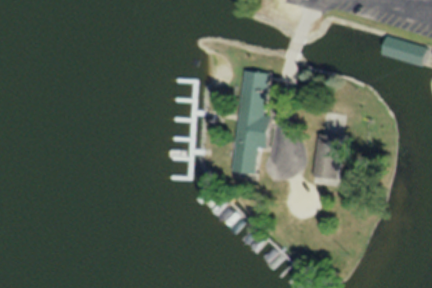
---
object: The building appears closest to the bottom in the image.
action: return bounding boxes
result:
[314,134,342,186]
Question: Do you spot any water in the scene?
Yes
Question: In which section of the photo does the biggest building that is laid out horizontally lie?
top right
